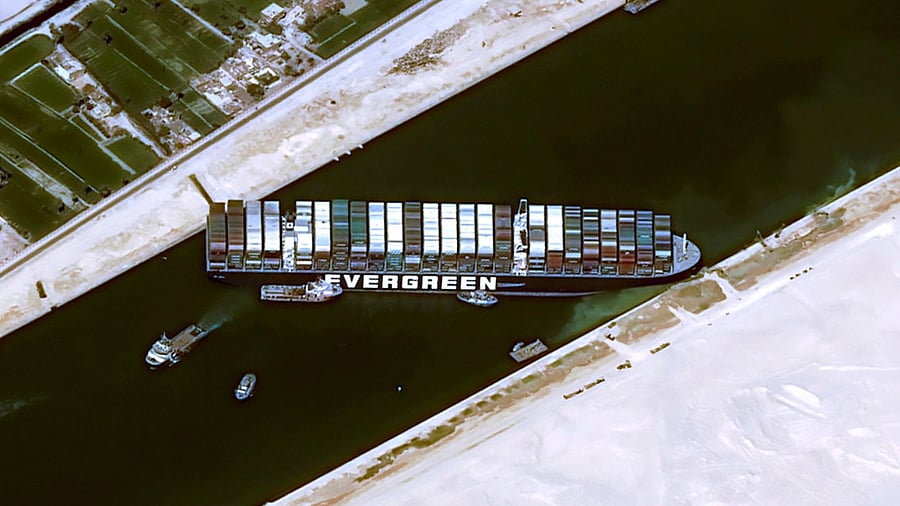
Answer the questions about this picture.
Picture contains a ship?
Yes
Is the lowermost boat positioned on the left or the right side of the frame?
left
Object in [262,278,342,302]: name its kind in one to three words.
ship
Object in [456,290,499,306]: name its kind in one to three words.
boat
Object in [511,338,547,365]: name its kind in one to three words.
ship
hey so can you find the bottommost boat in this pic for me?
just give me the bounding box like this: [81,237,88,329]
[236,372,258,400]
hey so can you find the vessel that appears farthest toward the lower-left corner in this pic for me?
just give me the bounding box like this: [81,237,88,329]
[147,323,206,365]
